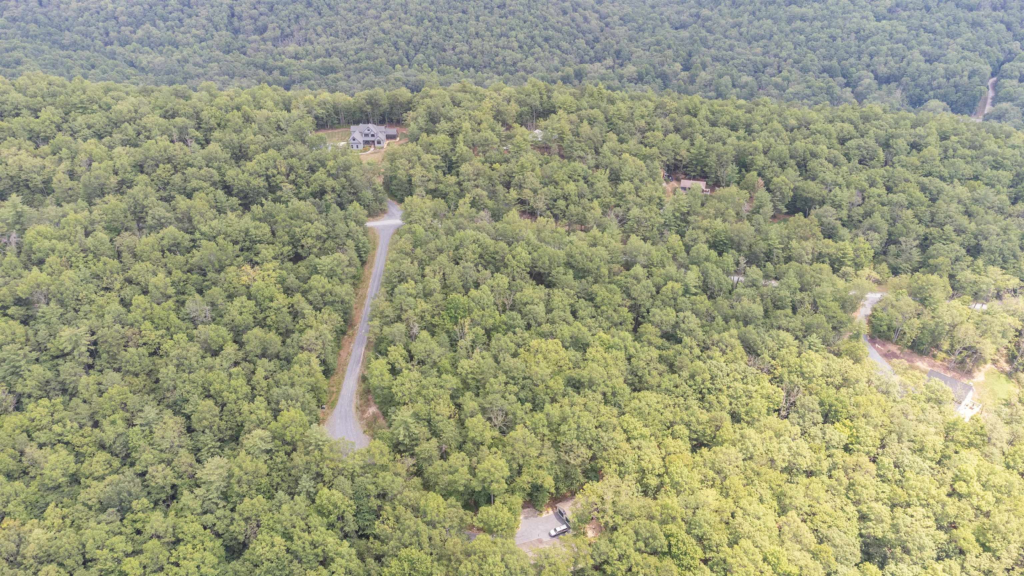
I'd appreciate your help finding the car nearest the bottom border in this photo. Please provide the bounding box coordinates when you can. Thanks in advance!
[547,523,570,539]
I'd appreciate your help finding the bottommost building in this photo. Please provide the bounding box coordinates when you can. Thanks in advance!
[555,491,582,532]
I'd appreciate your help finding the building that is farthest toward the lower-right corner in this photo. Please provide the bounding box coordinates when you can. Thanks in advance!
[926,368,980,424]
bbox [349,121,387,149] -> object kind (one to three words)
house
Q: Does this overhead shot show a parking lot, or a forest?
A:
forest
